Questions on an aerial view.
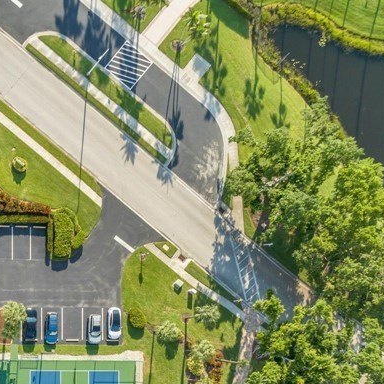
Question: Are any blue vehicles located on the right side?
No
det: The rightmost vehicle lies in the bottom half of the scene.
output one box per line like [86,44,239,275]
[105,307,122,339]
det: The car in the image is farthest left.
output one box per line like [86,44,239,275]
[23,308,40,341]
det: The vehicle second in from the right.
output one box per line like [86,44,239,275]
[86,314,103,345]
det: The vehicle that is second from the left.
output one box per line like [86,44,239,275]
[44,312,60,345]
